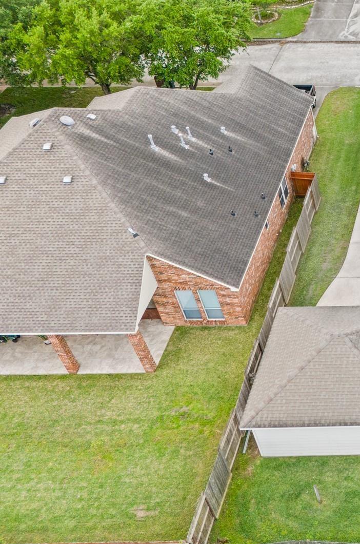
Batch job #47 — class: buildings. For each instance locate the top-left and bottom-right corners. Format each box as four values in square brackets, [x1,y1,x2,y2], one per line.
[0,66,317,374]
[237,306,360,466]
